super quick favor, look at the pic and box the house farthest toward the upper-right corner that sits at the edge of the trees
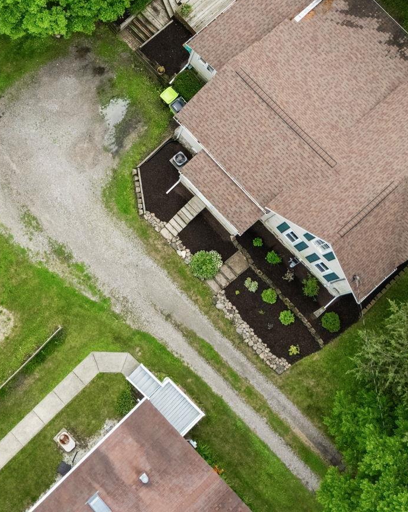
[166,0,408,308]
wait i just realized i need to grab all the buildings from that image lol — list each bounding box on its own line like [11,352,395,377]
[166,0,408,308]
[30,397,252,512]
